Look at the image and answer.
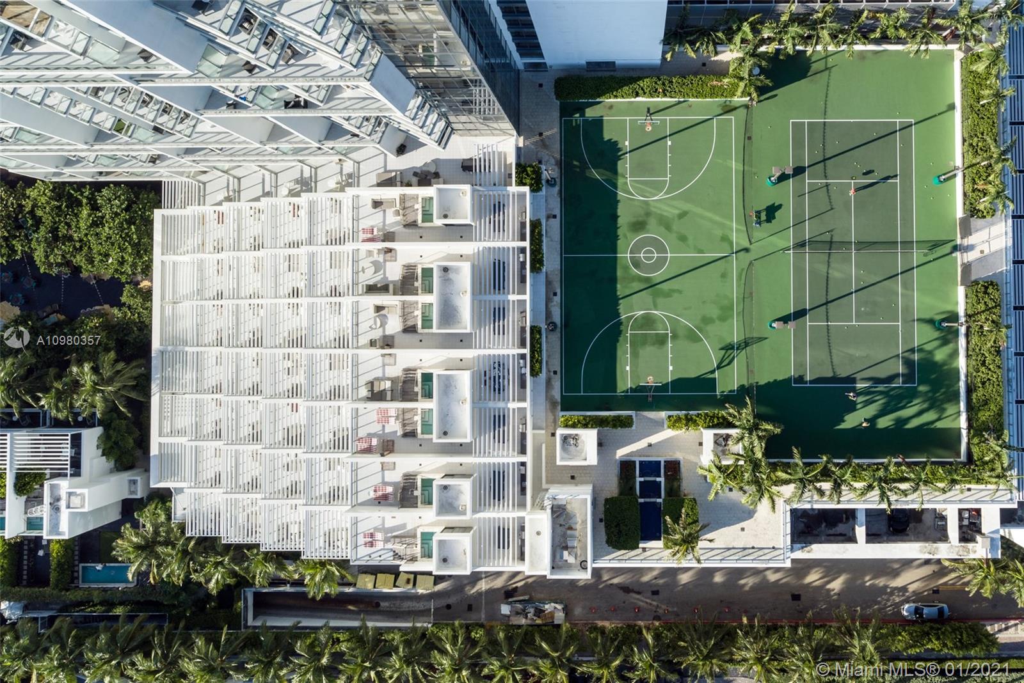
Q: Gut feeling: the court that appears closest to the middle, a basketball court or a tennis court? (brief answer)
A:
basketball court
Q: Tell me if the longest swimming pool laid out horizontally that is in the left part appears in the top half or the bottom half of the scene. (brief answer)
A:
bottom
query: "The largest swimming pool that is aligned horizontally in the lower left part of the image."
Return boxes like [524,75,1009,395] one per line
[79,565,136,586]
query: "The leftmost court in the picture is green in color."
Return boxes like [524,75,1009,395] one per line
[561,101,749,413]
